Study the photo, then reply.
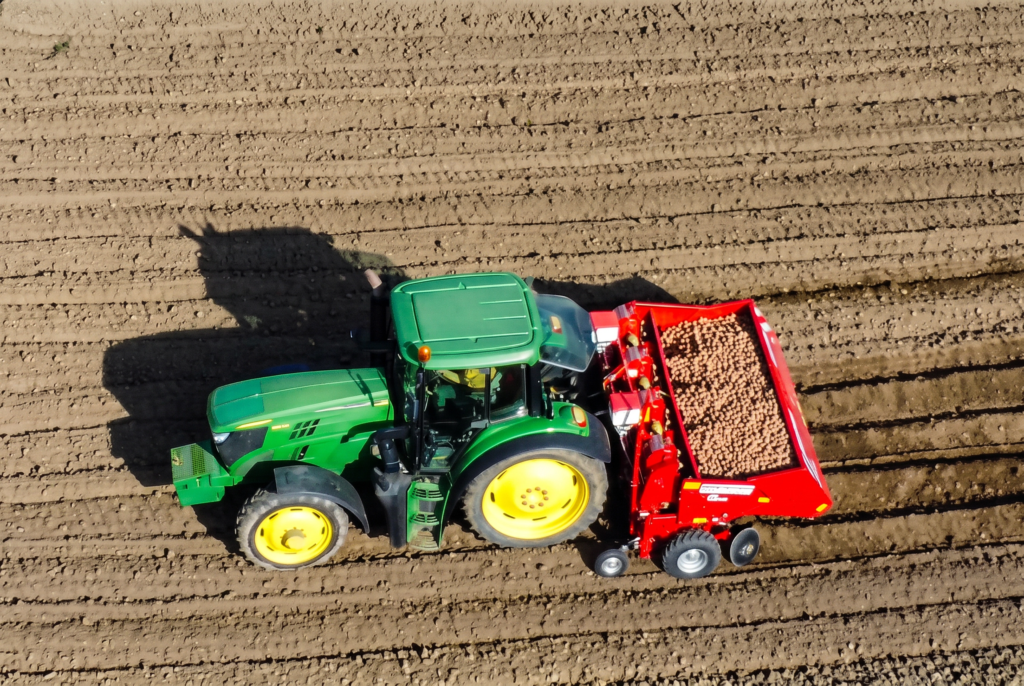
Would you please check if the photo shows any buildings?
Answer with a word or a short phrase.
No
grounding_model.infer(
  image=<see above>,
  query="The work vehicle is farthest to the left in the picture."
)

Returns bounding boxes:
[170,268,627,573]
